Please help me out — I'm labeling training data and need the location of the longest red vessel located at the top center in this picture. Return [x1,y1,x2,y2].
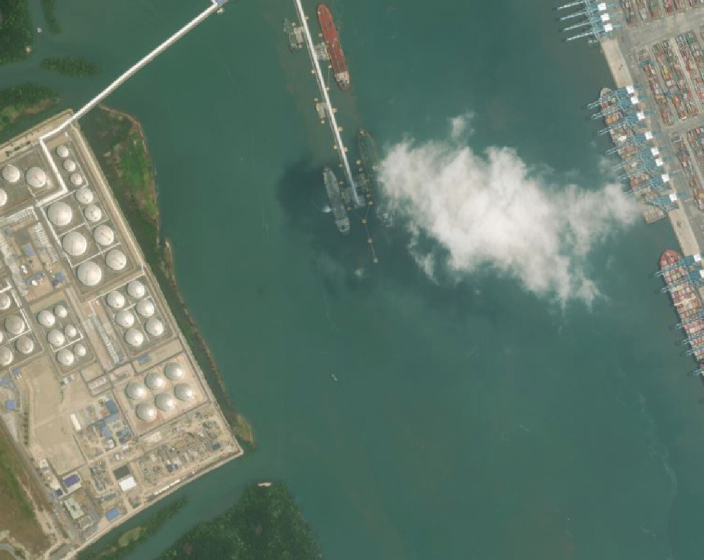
[316,4,353,90]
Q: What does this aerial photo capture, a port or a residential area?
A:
port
